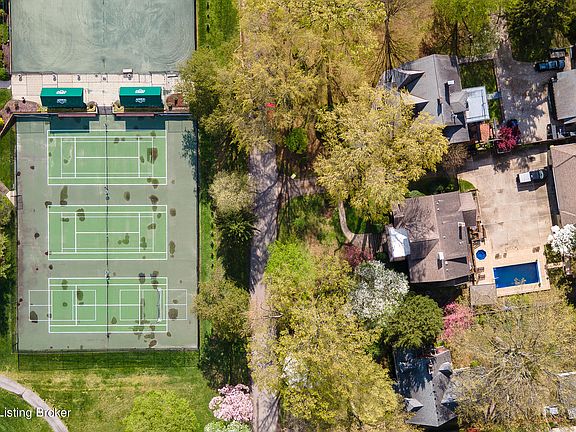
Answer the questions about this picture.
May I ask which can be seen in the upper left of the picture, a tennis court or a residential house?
tennis court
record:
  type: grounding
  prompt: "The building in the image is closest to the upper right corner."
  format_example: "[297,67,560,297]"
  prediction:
[548,74,576,120]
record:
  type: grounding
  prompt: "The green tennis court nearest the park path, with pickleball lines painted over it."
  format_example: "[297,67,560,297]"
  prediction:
[29,278,187,333]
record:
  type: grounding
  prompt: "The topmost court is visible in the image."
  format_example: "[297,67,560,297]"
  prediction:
[8,0,194,73]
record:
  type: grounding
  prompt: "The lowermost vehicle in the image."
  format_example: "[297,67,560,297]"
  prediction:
[516,169,546,183]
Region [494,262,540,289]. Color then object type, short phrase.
blue swimming pool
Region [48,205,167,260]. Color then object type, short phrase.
green tennis court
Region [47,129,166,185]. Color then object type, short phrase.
green tennis court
